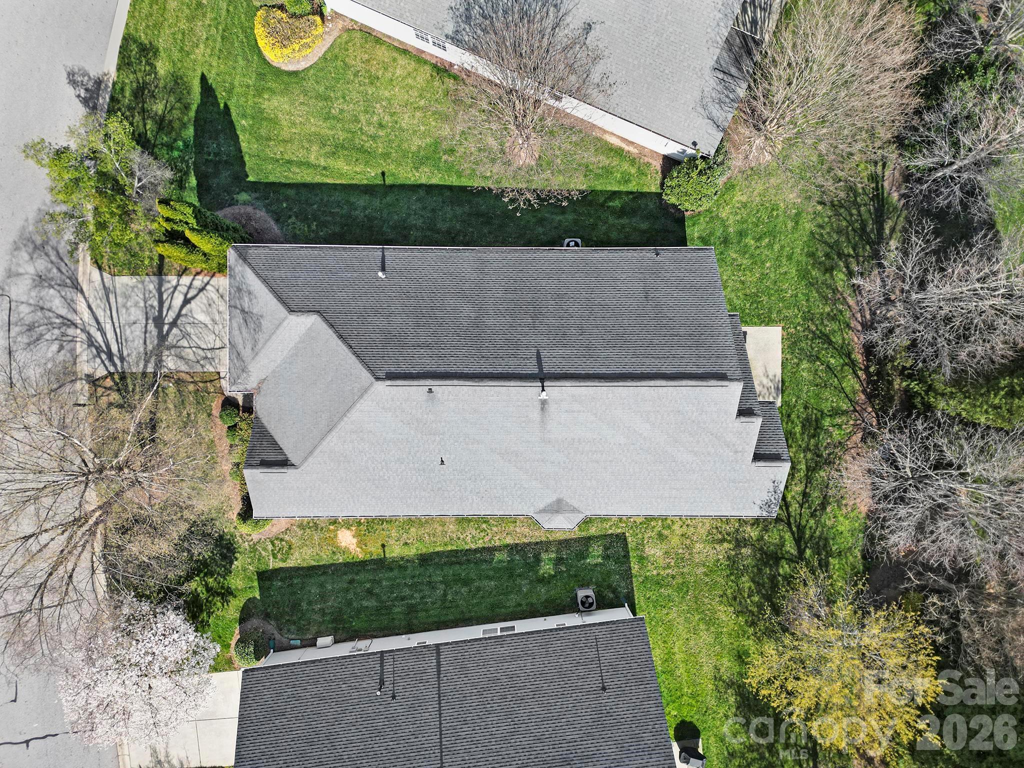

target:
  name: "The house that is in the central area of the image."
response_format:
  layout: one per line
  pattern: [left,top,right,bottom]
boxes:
[224,242,792,532]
